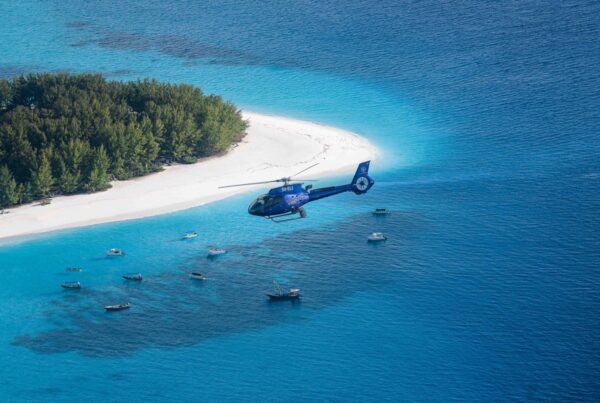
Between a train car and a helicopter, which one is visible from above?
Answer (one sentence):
Of the two, only a helicopter appears.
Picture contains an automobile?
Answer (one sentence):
No, this view has no automobile in it.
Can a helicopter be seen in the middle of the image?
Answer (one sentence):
Yes, the scene does show a helicopter in the middle of the image.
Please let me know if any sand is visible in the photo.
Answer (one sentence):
Yes, there's sand in this view.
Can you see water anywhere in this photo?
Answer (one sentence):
Yes, water shows up in the scene.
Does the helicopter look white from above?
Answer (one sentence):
No, the helicopter is blue.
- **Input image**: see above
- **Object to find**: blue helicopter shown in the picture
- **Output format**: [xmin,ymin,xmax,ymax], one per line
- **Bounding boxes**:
[219,160,374,223]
